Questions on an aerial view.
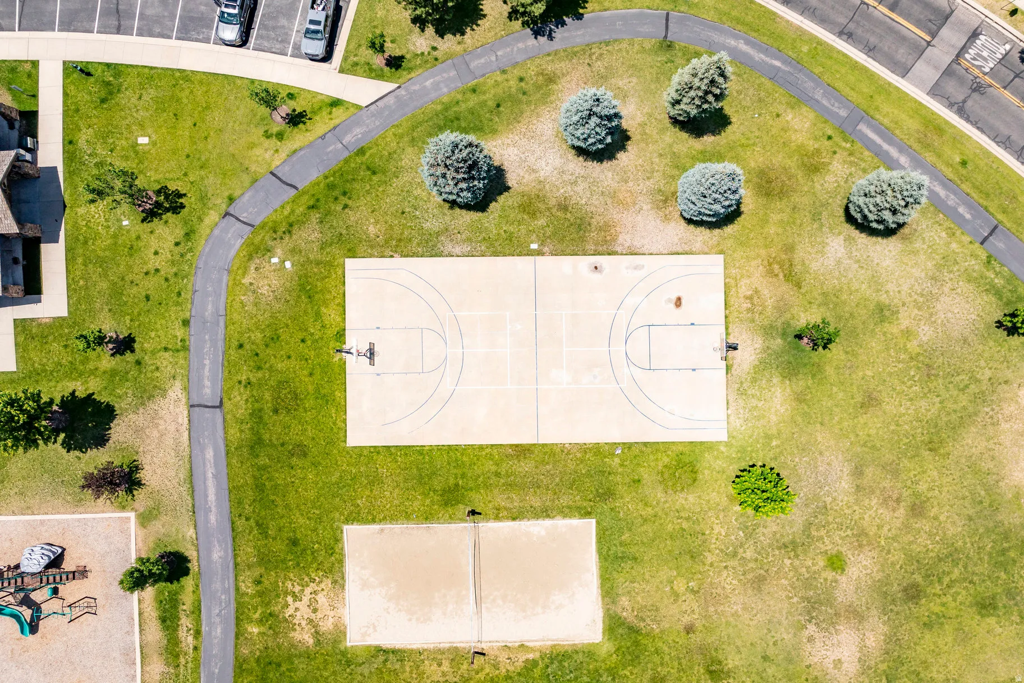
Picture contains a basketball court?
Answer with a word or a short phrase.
Yes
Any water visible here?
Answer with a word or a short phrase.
No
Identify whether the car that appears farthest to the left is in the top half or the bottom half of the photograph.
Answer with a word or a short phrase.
top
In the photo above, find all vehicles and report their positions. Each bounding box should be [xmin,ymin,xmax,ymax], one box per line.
[300,0,343,61]
[215,0,259,49]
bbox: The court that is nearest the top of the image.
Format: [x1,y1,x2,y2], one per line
[345,255,727,447]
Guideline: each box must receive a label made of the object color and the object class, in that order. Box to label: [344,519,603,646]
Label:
white sports court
